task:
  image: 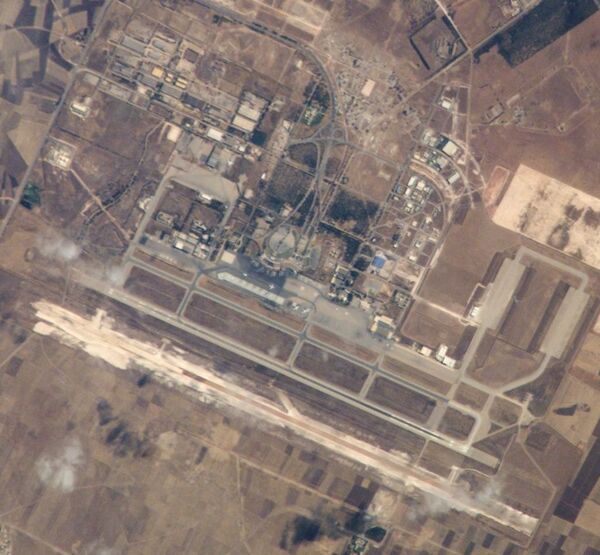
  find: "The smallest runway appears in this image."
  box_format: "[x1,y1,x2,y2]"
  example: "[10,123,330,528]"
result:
[74,278,497,468]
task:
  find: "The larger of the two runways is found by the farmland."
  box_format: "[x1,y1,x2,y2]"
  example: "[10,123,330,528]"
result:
[33,301,538,535]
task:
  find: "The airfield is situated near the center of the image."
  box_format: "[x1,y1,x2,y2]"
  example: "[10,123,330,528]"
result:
[73,166,599,476]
